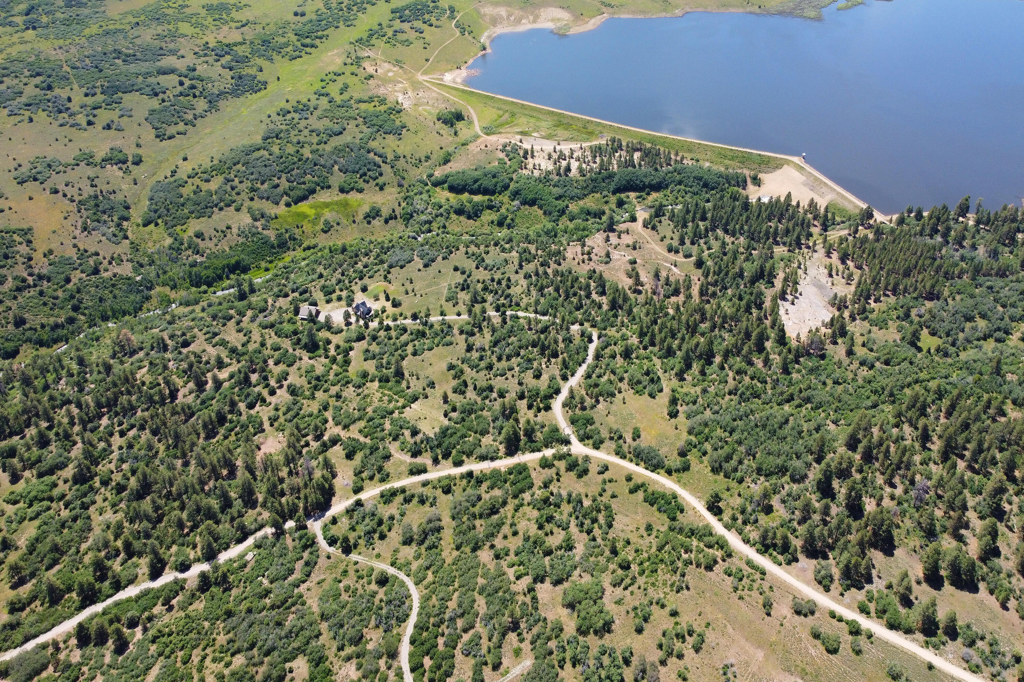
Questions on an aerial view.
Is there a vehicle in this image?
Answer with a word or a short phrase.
No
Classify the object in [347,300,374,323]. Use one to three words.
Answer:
building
